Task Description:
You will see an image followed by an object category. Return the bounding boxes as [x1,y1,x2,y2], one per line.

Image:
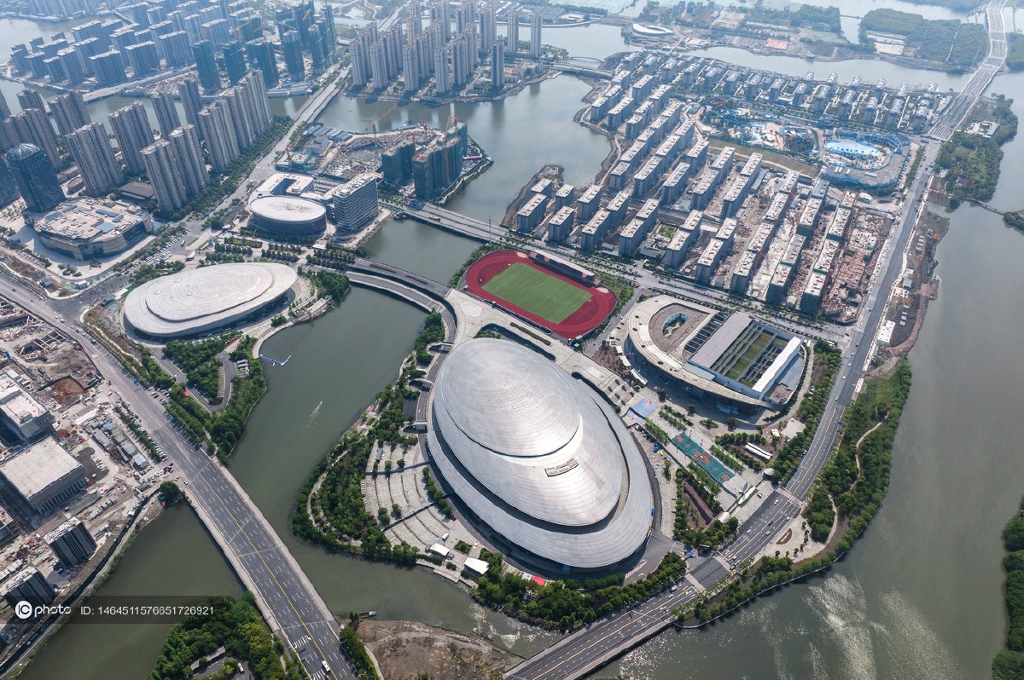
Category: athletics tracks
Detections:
[463,251,615,335]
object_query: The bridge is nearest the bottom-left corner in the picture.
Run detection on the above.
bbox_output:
[196,496,376,680]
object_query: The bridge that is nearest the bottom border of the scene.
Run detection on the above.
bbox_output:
[494,619,665,680]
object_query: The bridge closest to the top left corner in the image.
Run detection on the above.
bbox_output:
[84,63,195,104]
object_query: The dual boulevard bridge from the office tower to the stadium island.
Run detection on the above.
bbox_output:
[388,196,479,239]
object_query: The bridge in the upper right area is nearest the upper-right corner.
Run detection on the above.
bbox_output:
[925,0,1009,141]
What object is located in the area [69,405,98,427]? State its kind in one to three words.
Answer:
shed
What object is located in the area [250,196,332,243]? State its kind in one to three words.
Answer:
stadium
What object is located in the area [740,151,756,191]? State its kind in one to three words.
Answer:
building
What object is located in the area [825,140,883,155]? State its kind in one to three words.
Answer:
swimming pool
